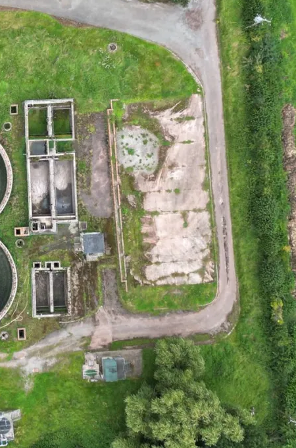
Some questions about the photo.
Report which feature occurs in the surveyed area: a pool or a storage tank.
storage tank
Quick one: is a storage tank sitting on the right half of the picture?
No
